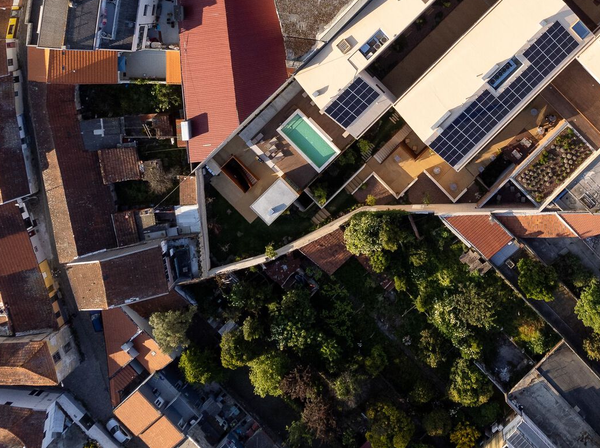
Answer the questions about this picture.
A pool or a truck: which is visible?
pool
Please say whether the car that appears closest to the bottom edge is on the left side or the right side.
left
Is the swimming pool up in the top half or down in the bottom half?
top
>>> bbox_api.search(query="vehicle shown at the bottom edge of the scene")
[103,412,134,446]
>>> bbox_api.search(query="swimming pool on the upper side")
[277,108,341,173]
